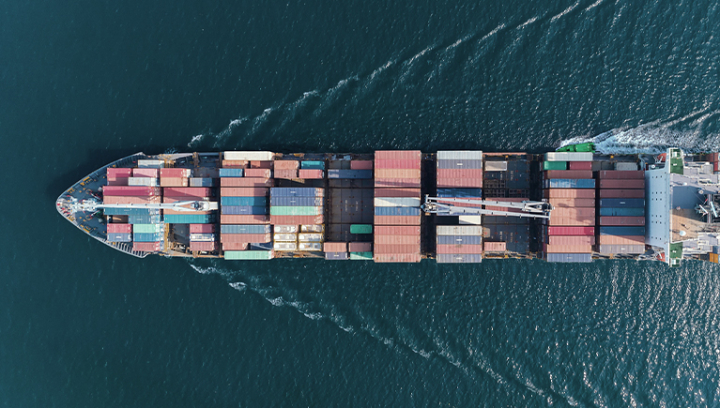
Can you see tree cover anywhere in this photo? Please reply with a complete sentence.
No, the scene doesn't show any tree cover.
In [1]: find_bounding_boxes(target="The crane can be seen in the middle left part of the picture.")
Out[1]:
[94,198,221,214]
